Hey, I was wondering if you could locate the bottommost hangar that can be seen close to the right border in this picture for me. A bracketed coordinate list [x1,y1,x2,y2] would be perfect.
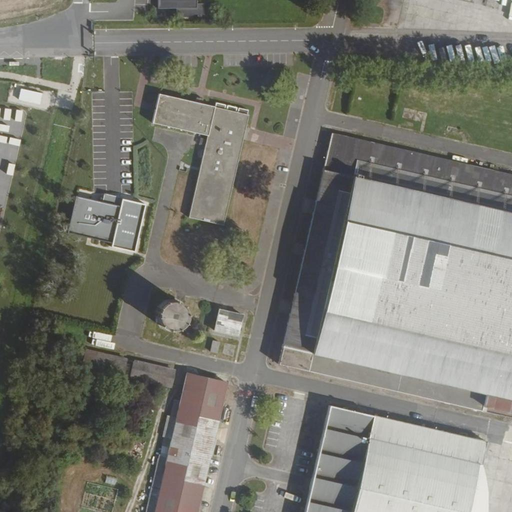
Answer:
[352,415,490,512]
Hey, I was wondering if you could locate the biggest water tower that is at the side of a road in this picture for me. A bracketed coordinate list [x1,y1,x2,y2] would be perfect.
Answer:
[159,300,192,334]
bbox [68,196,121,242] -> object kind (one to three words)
building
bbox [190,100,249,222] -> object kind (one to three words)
building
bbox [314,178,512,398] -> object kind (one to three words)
hangar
